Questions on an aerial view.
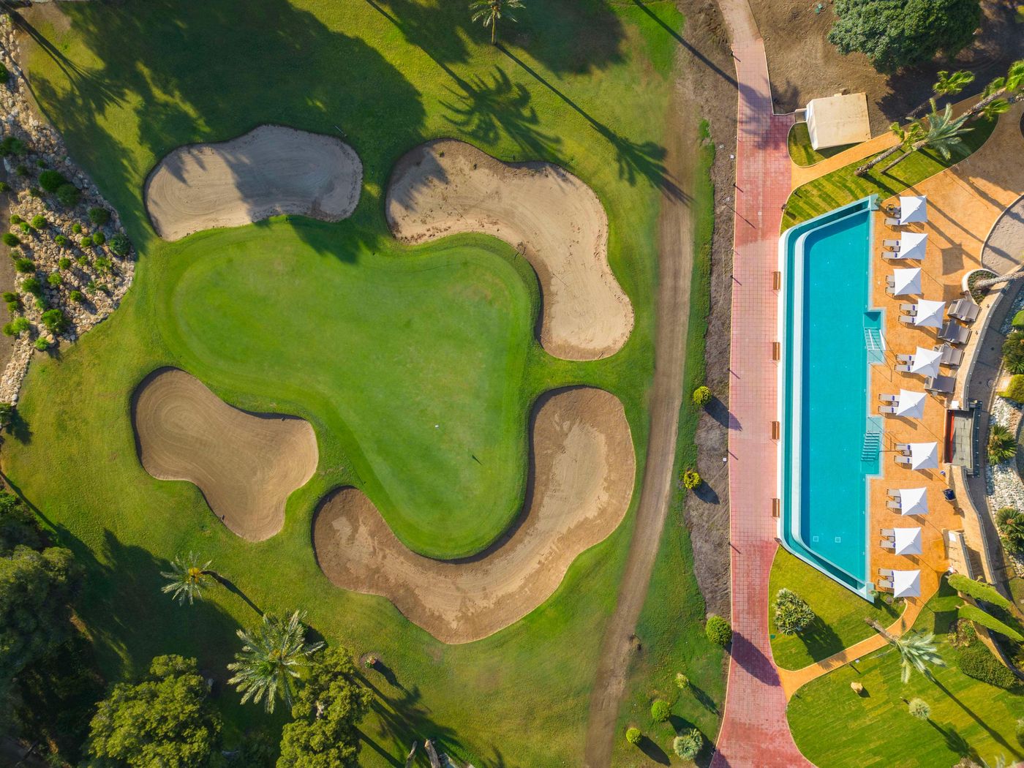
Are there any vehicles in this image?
No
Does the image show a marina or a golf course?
golf course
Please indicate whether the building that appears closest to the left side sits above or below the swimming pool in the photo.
above it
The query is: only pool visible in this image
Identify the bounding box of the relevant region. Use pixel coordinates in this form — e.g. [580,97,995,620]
[776,193,887,603]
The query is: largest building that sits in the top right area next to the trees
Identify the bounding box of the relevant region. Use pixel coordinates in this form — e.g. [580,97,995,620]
[794,92,871,151]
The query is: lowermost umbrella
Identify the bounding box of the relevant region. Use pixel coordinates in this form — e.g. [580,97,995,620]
[893,570,920,597]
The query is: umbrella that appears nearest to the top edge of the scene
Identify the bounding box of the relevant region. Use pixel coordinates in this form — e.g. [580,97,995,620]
[899,196,927,224]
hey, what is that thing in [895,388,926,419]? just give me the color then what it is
white umbrella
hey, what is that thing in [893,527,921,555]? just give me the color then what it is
white umbrella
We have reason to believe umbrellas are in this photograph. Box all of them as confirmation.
[893,527,921,555]
[893,570,920,597]
[899,196,927,224]
[915,299,944,327]
[898,232,926,259]
[909,441,938,469]
[911,347,942,378]
[893,268,921,296]
[895,388,926,419]
[899,488,927,515]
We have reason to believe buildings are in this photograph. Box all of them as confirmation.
[794,92,871,151]
[941,402,982,477]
